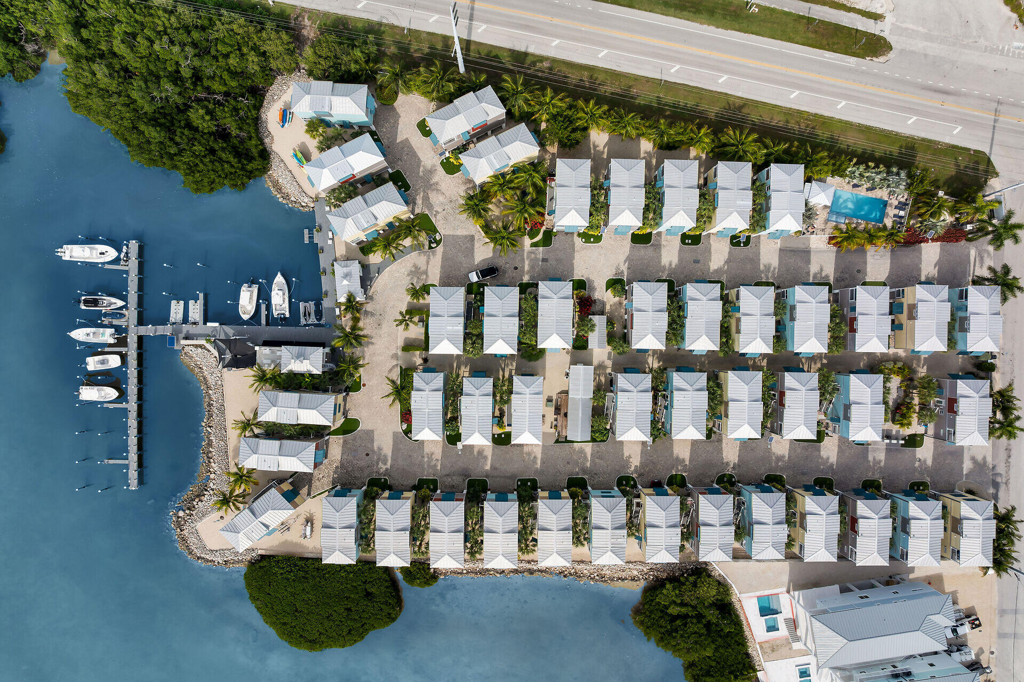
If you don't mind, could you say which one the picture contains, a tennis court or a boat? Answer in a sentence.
The image shows a boat.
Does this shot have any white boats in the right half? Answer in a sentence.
No, no white boat can be made out in the right half.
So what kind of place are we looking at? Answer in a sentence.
This image shows a residential area.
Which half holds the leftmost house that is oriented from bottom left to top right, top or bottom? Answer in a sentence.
The leftmost house that is oriented from bottom left to top right is in the bottom half of the image.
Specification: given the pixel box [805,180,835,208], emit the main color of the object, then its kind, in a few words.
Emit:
white gazebo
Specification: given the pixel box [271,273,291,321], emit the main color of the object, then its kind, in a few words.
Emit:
white boat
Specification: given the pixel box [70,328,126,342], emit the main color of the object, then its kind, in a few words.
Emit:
white boat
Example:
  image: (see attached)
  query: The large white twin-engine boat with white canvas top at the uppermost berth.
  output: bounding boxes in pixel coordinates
[60,246,120,263]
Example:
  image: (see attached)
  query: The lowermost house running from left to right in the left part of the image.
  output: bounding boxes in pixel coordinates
[237,433,328,473]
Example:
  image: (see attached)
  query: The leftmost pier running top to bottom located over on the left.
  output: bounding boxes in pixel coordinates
[128,241,143,489]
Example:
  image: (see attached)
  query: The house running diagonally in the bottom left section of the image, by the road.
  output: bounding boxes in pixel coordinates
[220,478,308,553]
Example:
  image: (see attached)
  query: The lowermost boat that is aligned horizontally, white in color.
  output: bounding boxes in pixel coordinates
[77,386,122,401]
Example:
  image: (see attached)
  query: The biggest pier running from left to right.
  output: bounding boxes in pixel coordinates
[174,326,342,349]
